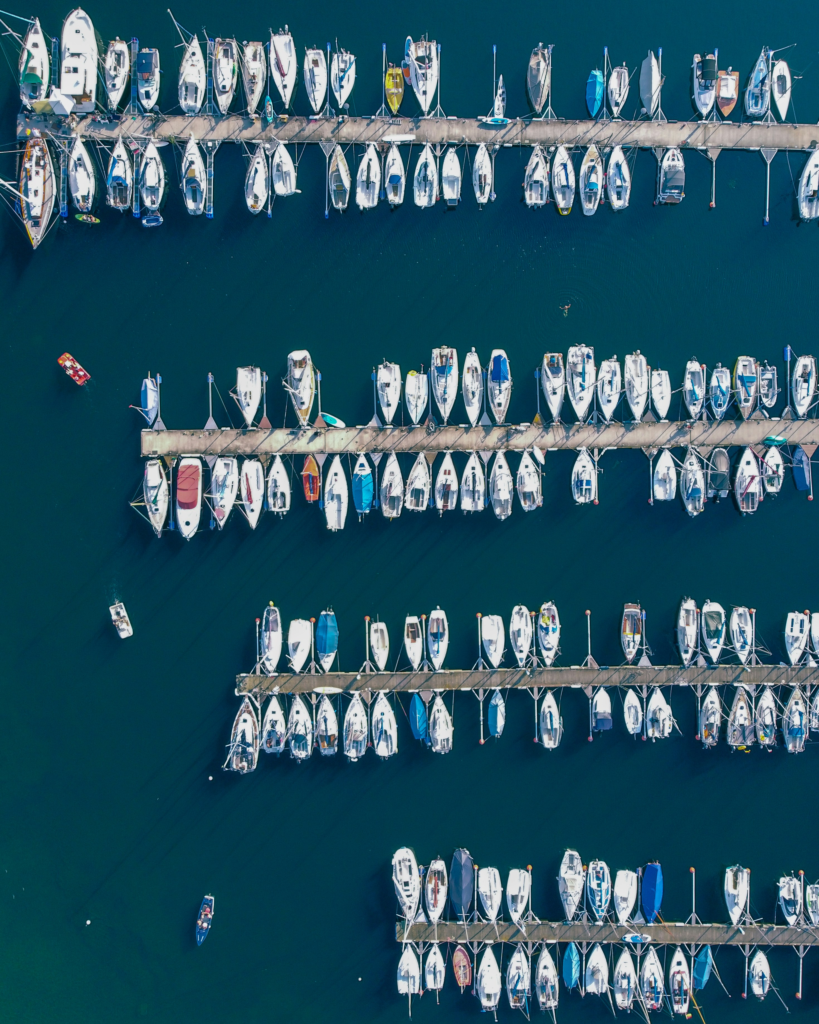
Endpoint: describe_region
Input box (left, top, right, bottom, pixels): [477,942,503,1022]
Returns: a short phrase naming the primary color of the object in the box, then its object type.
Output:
white boat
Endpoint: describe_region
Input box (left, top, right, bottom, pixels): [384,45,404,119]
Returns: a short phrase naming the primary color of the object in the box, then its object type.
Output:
yellow boat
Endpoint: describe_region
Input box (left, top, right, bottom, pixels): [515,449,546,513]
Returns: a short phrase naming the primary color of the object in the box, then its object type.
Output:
white boat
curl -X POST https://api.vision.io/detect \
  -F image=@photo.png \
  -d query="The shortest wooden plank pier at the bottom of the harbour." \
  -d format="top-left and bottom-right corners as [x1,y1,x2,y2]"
[396,920,819,946]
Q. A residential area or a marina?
marina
